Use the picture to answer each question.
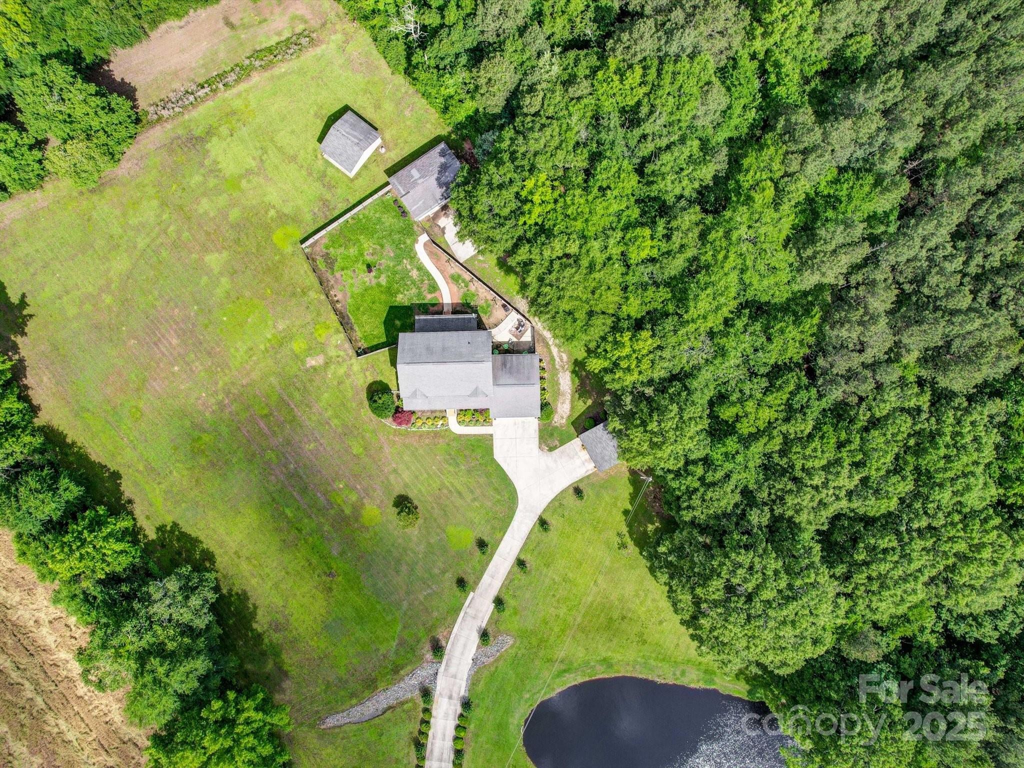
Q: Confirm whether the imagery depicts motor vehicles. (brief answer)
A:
No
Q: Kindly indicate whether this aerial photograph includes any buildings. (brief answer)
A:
Yes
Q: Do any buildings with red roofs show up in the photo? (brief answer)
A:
No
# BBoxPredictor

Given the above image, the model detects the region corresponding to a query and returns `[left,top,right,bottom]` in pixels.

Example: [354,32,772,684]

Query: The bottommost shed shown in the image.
[579,413,636,474]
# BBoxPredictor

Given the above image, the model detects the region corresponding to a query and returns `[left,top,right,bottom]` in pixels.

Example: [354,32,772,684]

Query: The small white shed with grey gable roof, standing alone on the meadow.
[320,112,384,179]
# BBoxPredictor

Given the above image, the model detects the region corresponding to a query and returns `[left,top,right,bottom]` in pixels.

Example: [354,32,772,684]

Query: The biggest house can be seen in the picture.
[396,312,541,419]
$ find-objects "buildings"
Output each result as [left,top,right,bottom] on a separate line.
[579,413,636,474]
[396,312,541,419]
[390,144,467,222]
[320,112,384,179]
